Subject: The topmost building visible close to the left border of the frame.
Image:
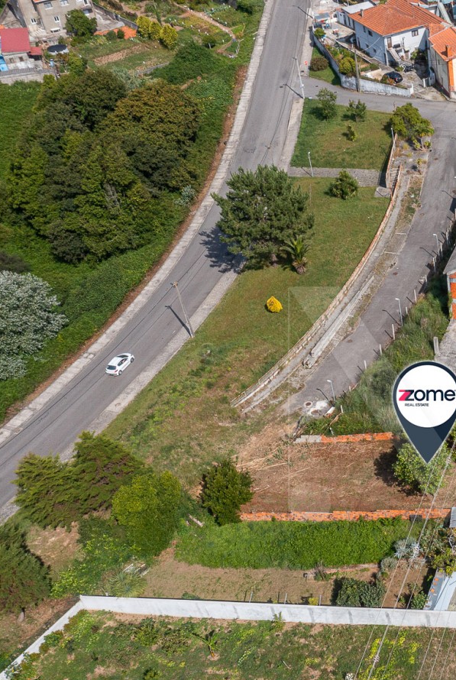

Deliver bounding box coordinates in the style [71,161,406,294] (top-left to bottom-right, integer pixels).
[14,0,97,33]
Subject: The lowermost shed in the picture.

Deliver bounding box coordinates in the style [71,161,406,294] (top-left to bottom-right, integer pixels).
[424,570,445,609]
